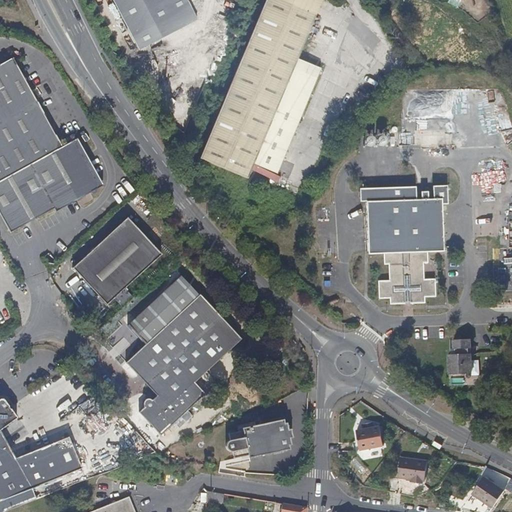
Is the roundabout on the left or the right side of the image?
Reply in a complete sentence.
The roundabout sits on the right side.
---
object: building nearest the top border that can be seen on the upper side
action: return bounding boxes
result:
[114,0,197,49]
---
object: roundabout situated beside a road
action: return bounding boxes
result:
[312,326,386,413]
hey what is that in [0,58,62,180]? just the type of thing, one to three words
building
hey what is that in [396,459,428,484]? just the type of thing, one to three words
house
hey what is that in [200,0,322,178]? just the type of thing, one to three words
warehouse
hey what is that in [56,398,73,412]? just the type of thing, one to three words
vehicle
